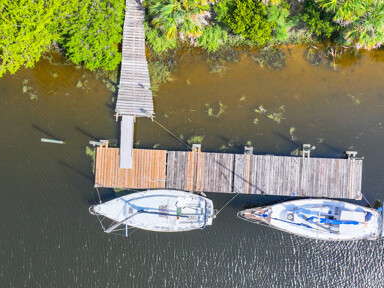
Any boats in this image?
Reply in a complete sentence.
Yes, a boat appears in the view.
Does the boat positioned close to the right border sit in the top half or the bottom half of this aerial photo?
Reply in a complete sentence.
The bottom half of the photo is where the boat positioned close to the right border is.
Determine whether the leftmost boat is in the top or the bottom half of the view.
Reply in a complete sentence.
The bottom half of the photo is where the leftmost boat is.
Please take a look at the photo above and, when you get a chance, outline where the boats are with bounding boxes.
[237,200,384,243]
[87,191,219,237]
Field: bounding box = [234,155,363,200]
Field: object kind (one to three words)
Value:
pier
